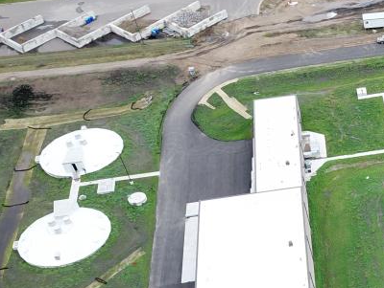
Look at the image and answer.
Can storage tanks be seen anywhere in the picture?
Yes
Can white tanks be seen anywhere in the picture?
Yes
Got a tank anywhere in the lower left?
Yes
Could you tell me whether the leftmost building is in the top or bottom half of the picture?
bottom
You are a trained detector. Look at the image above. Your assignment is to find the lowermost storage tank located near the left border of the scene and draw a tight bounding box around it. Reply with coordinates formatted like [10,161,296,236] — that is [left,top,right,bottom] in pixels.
[10,195,112,271]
